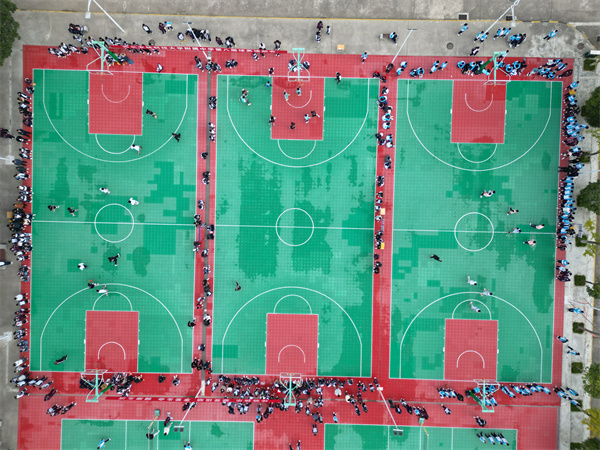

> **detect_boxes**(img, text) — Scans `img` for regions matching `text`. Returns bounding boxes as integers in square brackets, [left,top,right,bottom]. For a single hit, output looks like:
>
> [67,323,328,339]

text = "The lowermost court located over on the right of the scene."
[324,424,517,450]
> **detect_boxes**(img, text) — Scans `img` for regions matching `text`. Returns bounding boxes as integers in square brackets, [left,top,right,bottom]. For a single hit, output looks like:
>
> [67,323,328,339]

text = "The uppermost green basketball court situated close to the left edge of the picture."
[30,69,197,373]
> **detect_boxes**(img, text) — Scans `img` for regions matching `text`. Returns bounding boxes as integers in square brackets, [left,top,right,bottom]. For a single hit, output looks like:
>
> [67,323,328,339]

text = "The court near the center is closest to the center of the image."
[212,75,380,377]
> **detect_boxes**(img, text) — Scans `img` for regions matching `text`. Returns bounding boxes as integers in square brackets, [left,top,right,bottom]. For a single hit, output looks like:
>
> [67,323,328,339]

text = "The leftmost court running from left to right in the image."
[60,418,254,450]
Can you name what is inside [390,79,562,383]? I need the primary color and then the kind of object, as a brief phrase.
green basketball court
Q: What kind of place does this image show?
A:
sports ground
